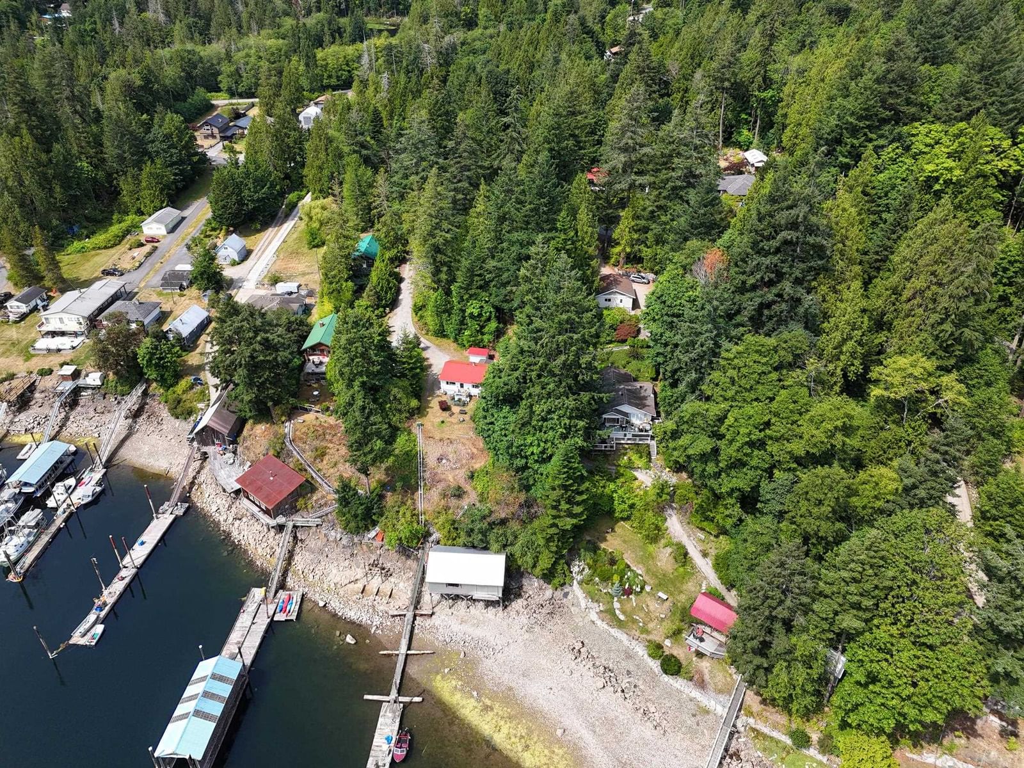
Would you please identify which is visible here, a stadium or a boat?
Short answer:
boat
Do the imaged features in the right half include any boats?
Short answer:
No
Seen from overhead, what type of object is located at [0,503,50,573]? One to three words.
boat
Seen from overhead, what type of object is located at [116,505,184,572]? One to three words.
pier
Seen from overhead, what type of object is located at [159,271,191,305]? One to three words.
building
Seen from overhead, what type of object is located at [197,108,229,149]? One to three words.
house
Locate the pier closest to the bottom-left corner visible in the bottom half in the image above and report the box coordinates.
[70,568,135,644]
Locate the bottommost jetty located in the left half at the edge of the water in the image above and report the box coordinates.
[363,701,404,768]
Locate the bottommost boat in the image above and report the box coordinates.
[392,728,411,765]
